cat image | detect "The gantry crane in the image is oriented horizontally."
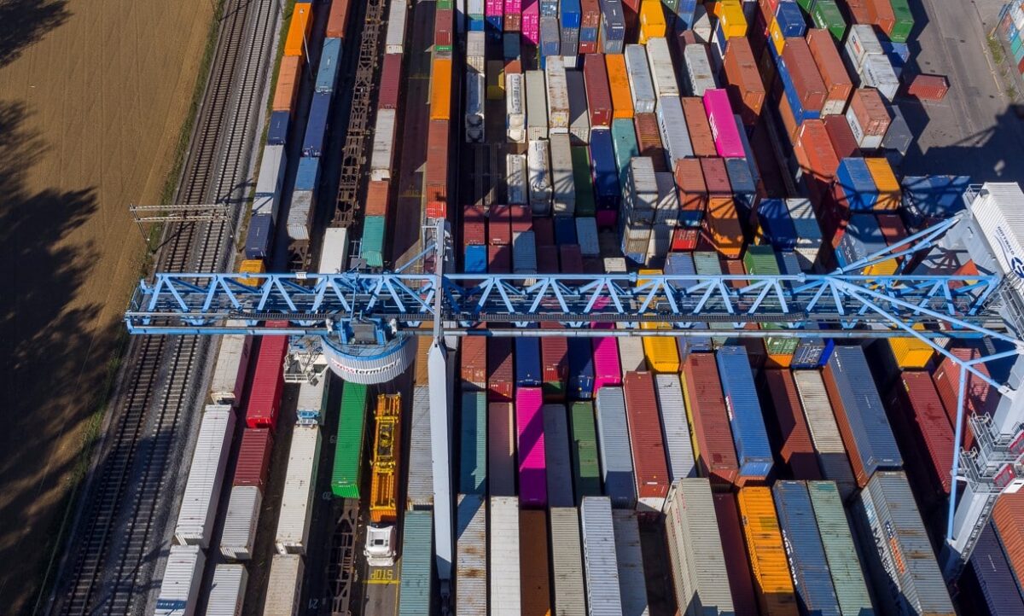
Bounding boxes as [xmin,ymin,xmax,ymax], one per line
[120,187,1024,616]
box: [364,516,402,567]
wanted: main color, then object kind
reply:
white truck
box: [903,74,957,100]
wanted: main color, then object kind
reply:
red shipping container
